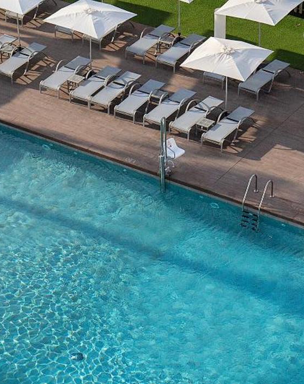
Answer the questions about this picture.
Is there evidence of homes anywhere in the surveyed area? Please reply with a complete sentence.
No, there's no home here.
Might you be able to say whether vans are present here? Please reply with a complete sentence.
No, the frame has no van in it.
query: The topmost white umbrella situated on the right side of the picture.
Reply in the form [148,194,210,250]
[218,0,304,46]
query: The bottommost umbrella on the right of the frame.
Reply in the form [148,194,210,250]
[181,35,274,117]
